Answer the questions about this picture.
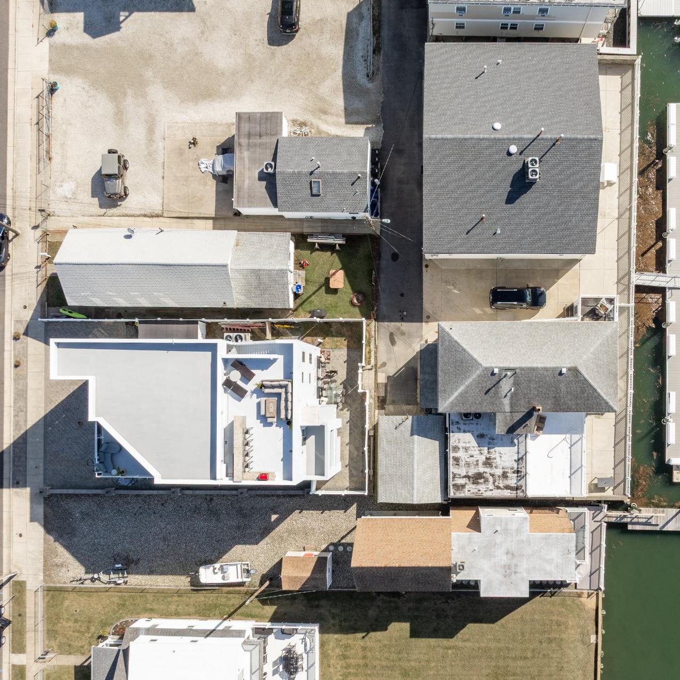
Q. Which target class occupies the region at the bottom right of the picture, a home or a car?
home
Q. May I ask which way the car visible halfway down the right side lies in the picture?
from side to side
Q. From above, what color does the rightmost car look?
black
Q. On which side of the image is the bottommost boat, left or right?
left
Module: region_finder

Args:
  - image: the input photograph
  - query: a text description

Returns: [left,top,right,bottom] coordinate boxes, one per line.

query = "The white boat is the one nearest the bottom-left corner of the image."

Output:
[198,562,257,585]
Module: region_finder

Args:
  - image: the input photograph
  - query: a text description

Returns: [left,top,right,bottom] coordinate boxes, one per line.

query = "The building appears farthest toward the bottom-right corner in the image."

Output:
[451,504,576,596]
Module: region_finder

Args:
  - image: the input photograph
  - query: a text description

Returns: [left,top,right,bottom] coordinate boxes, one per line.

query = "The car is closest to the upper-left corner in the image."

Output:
[101,148,129,197]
